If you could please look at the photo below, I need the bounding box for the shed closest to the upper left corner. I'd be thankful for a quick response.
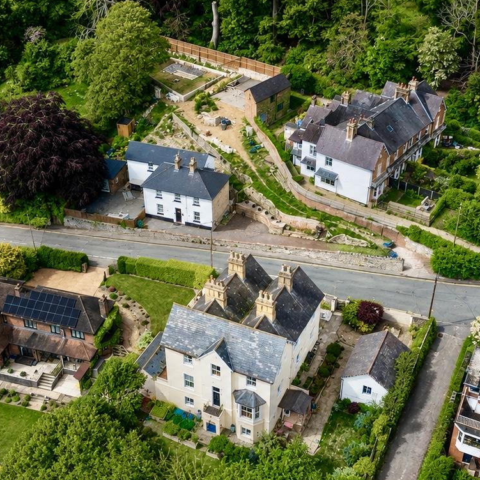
[115,114,135,137]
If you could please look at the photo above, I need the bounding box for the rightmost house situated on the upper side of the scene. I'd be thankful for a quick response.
[294,70,451,214]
